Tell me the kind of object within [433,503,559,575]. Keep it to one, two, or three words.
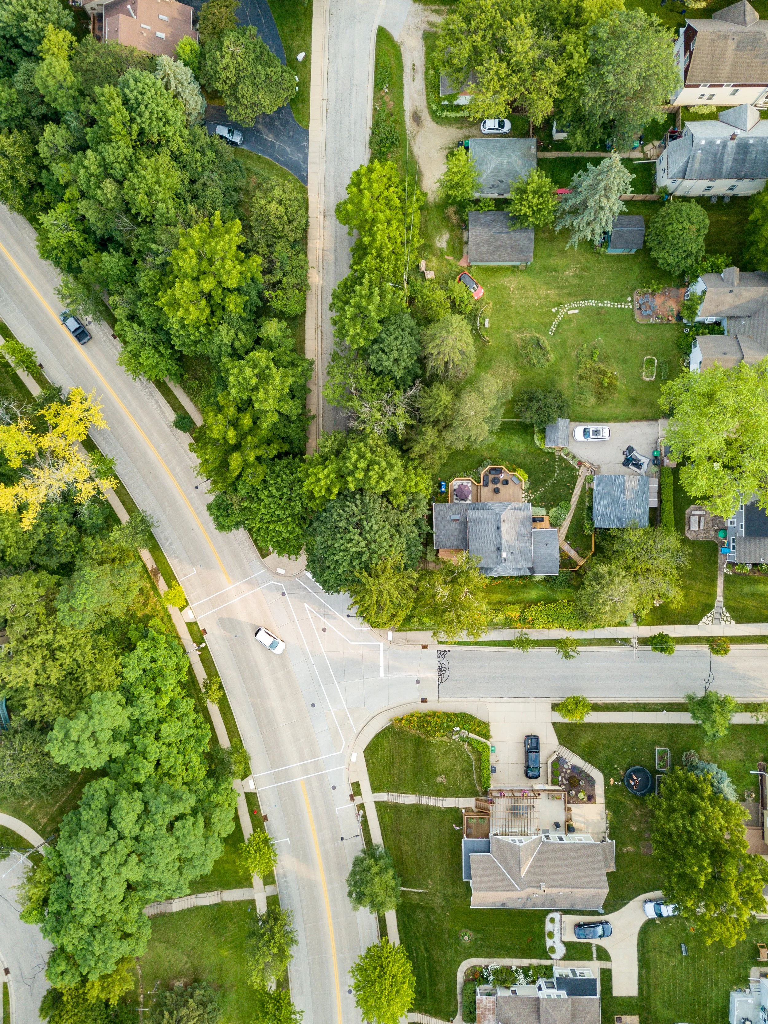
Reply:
house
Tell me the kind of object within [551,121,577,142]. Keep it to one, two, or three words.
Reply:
shed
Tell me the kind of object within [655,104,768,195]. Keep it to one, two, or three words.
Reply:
house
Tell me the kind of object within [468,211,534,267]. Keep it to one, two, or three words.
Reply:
building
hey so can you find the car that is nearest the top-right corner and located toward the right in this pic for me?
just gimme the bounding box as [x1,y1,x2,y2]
[480,116,511,136]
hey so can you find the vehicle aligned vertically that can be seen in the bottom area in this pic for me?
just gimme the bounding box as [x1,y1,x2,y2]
[523,734,543,779]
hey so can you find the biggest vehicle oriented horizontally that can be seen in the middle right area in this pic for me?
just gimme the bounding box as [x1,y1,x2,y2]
[572,424,611,442]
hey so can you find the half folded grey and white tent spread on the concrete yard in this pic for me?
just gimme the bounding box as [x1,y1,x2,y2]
[622,445,650,475]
